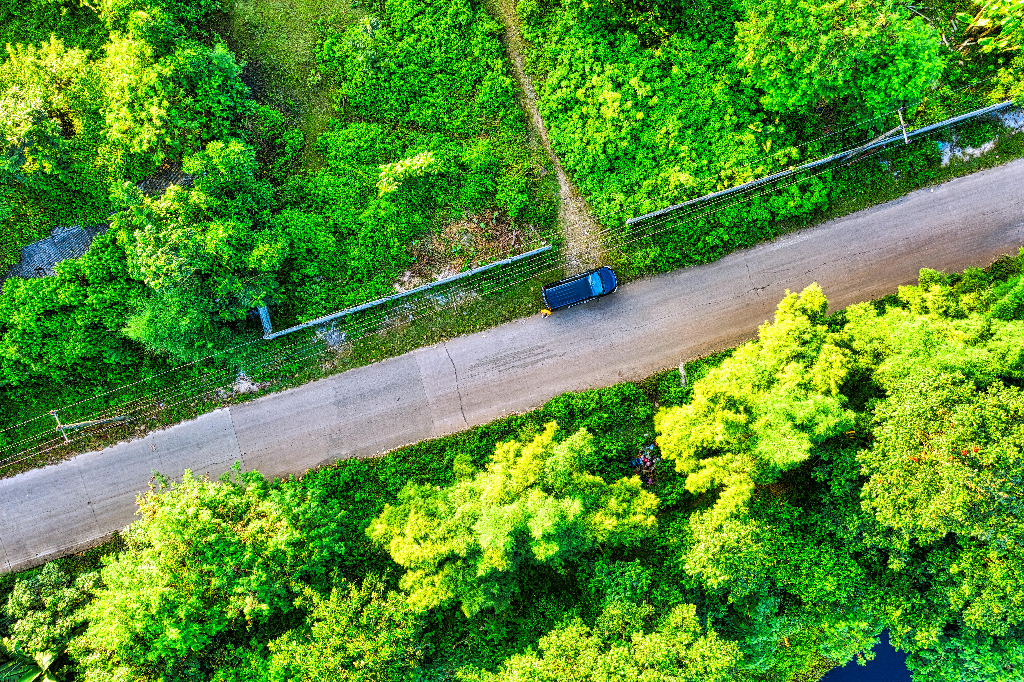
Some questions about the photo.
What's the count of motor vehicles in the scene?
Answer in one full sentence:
I count just 1 motor vehicle.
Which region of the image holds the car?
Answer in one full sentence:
Look in the center portion of the view to spot the car.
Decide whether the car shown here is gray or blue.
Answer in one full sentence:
The car is blue.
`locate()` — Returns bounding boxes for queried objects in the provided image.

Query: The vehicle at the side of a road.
[539,265,622,314]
